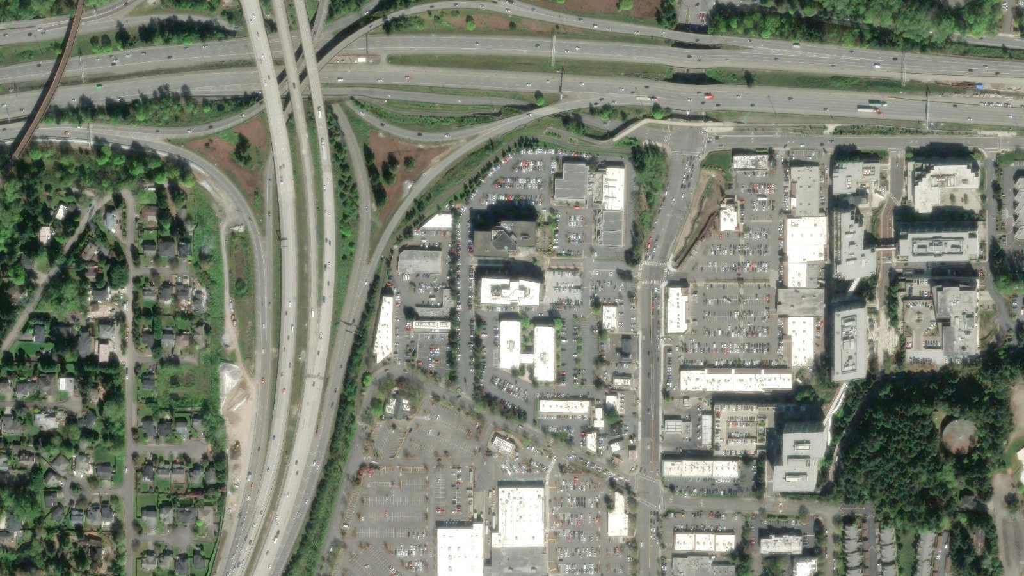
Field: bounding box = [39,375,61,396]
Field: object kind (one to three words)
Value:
house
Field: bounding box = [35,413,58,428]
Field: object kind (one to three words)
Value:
house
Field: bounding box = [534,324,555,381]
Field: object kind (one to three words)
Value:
building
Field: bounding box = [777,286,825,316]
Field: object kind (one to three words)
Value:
building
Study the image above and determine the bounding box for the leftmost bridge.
[13,0,84,157]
